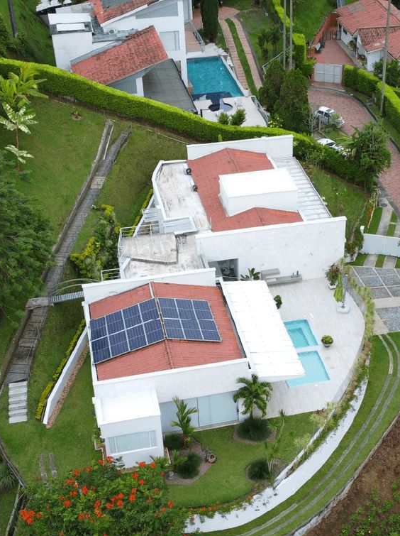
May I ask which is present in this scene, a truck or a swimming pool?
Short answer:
swimming pool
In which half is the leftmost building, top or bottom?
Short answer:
top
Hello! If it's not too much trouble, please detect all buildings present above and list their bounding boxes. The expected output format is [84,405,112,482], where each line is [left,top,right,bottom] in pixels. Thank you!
[47,0,205,125]
[81,133,348,478]
[336,0,400,98]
